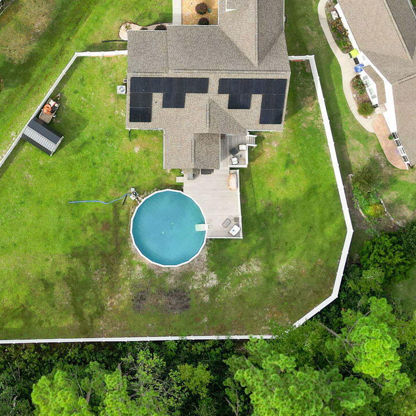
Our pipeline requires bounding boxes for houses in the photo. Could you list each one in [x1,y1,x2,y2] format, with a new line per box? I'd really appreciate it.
[334,0,416,167]
[127,0,291,169]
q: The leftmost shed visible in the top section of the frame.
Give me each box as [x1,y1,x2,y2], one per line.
[22,117,63,153]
